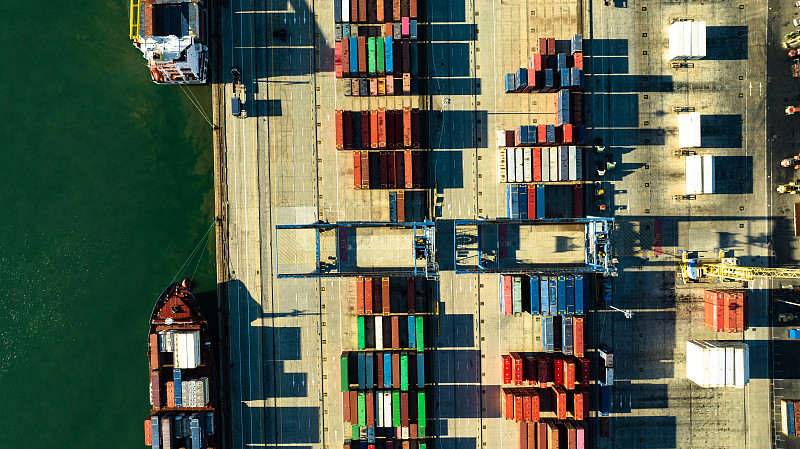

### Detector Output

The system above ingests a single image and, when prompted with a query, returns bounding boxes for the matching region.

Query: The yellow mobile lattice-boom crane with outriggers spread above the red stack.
[677,247,800,285]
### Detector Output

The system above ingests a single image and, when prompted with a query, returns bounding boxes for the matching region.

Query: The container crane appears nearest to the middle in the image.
[277,213,447,284]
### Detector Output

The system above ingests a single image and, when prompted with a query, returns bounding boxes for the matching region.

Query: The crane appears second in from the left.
[451,210,622,281]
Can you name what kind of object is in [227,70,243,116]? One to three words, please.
vehicle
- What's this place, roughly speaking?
port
